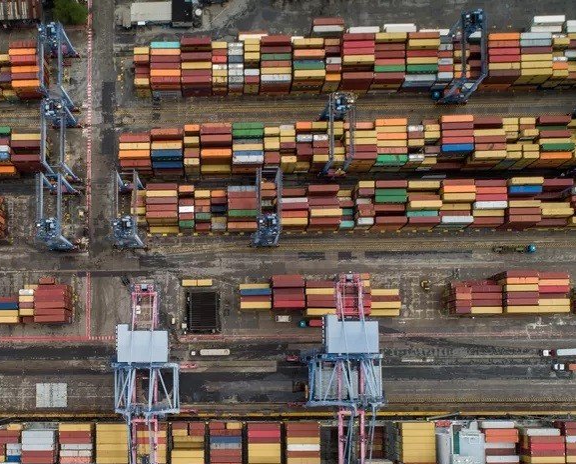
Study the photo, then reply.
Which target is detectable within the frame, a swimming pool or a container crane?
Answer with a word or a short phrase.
container crane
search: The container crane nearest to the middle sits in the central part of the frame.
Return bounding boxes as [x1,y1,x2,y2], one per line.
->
[251,168,285,248]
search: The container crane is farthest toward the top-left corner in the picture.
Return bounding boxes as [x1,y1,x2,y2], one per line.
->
[37,18,75,108]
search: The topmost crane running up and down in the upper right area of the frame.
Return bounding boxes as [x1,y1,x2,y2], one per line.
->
[442,7,488,101]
